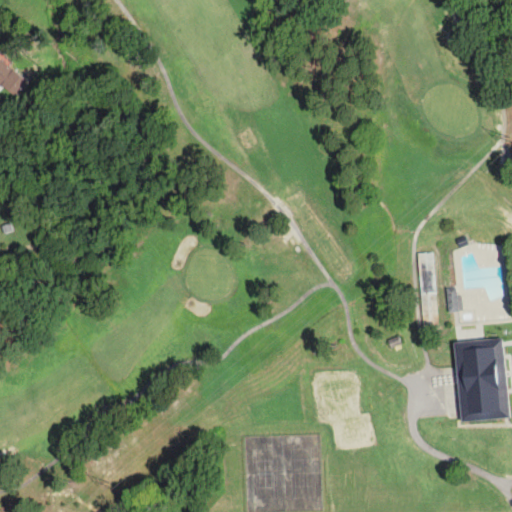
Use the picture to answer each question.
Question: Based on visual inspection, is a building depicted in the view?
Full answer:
Yes, there's a building here.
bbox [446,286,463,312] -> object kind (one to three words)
building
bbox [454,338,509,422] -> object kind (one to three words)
building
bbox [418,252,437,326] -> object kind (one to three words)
shed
